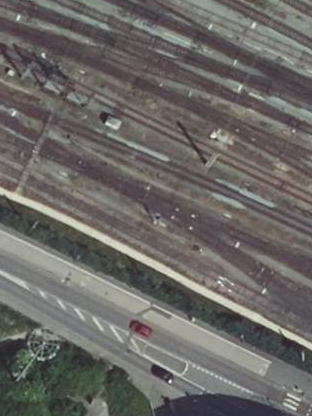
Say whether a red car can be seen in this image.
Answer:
Yes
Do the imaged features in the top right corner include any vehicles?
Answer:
No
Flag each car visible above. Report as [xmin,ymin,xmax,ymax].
[128,320,151,336]
[150,364,174,382]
